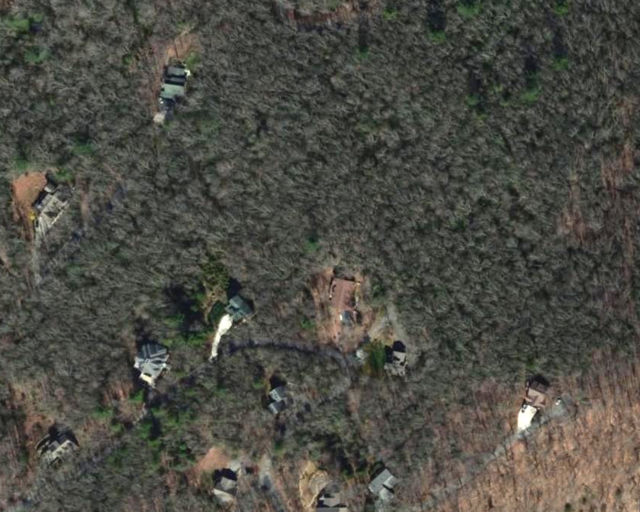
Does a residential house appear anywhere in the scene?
Yes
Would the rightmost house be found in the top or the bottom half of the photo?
bottom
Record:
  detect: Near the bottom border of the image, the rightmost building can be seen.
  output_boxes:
[366,470,398,506]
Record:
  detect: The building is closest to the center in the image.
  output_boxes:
[331,277,361,310]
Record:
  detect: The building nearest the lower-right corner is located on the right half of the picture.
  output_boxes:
[524,380,549,408]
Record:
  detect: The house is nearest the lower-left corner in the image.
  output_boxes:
[36,430,79,459]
